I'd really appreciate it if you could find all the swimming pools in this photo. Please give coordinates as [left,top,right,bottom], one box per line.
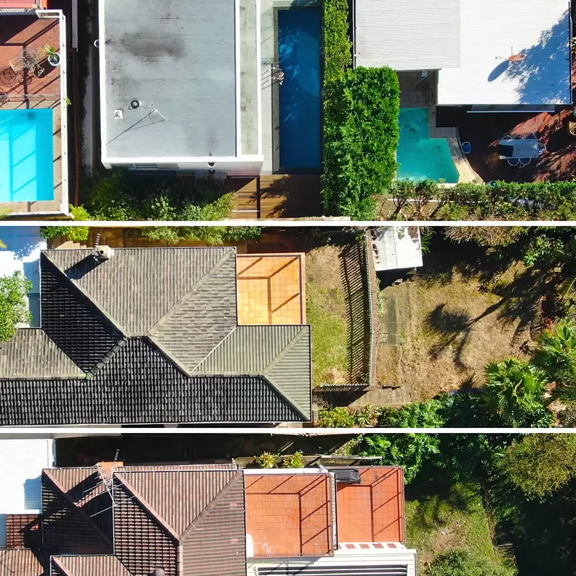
[393,105,482,185]
[272,1,324,174]
[0,102,61,210]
